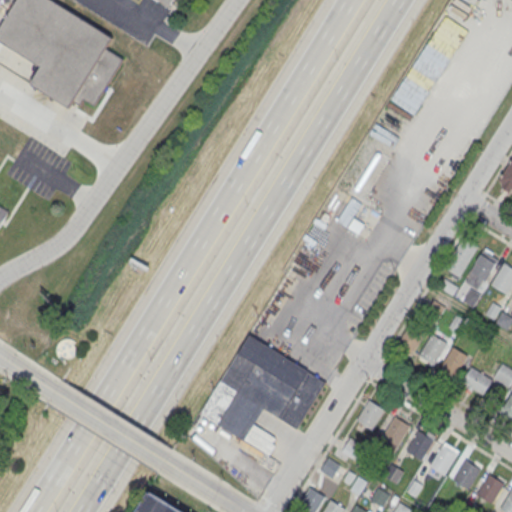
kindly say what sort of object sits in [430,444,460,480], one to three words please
house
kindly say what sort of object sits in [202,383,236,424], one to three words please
shed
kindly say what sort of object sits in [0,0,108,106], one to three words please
building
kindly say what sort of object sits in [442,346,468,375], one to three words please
house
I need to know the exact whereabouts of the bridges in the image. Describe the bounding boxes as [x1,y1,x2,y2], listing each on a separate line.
[52,383,177,474]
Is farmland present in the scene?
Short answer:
No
